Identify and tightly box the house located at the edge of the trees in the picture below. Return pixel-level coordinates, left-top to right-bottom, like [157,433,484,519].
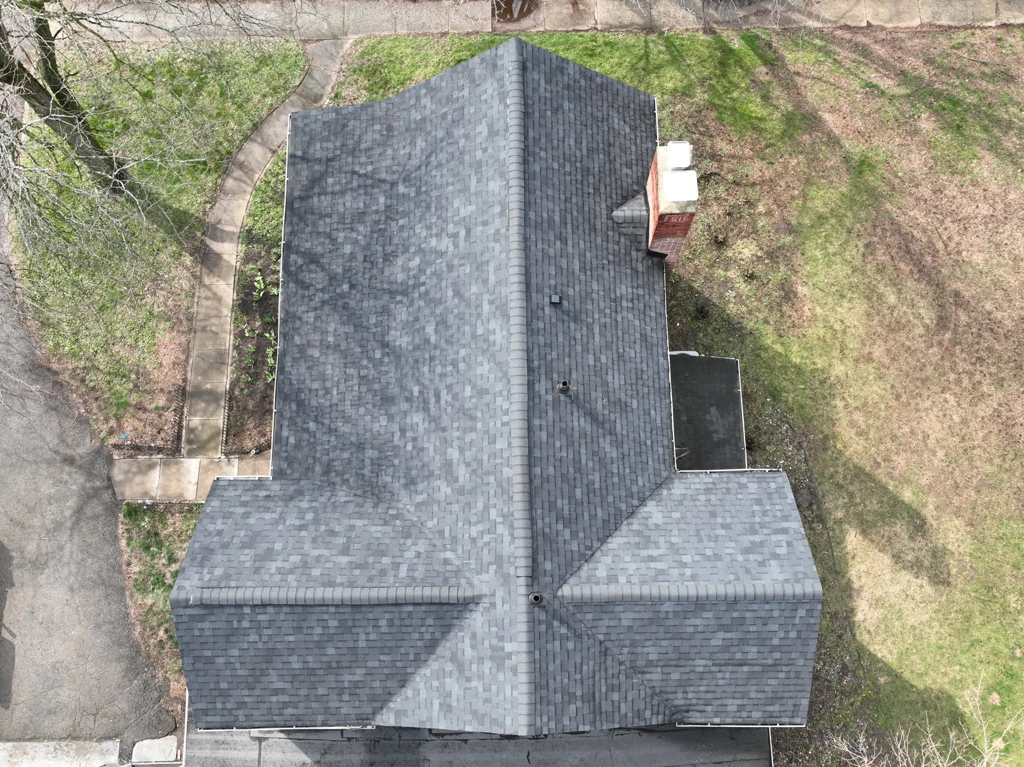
[169,38,825,767]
